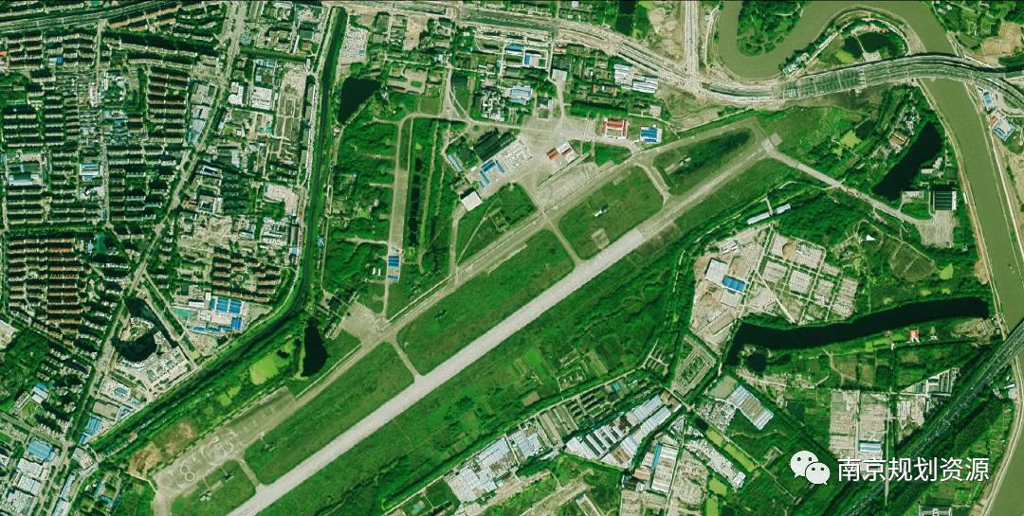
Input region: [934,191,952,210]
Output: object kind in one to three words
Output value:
hangar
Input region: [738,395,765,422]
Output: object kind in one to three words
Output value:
greenhouse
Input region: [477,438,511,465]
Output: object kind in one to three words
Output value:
building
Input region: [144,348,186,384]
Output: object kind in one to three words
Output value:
building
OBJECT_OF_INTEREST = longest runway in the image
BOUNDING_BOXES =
[247,128,774,515]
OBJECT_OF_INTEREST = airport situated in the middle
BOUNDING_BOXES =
[149,107,956,516]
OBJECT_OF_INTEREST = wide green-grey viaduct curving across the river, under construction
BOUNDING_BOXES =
[770,54,1024,112]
